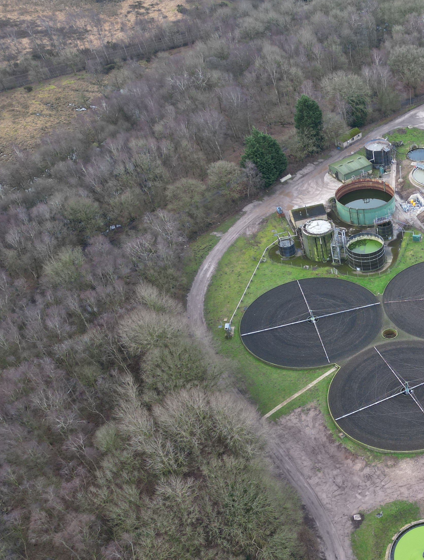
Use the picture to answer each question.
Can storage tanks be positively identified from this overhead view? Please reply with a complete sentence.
Yes, you can see a storage tank in this photo.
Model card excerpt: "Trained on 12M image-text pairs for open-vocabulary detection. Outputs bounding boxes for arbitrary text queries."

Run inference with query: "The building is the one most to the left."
[287,200,327,229]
